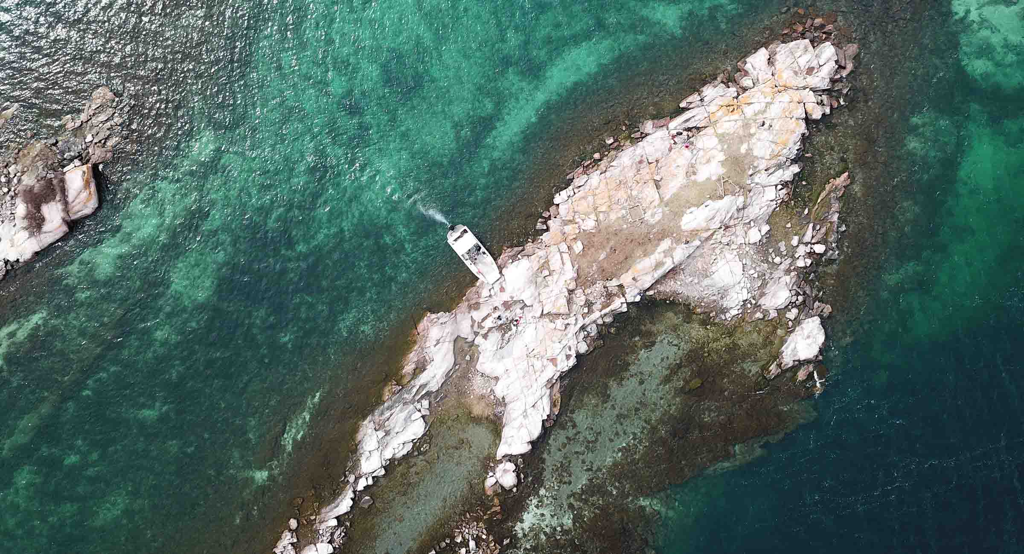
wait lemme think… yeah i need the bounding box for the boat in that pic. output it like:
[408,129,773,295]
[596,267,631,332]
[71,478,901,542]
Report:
[447,223,502,285]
